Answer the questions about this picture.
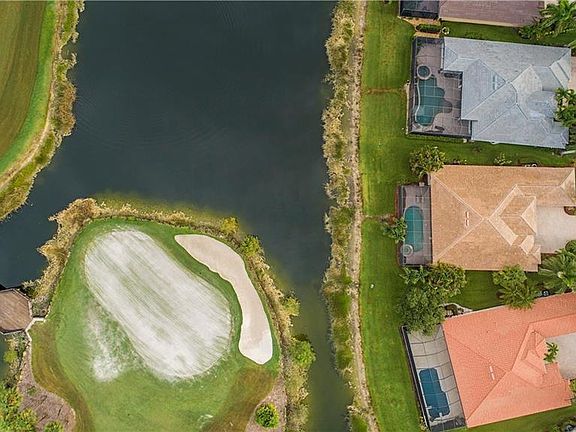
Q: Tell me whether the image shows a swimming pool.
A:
Yes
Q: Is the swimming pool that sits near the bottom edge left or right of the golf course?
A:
to the right of it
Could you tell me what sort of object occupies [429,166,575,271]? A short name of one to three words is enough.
house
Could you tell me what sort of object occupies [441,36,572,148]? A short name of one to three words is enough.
house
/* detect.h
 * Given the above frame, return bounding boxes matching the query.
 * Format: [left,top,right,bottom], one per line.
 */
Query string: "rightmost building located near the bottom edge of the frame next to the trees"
[442,292,576,428]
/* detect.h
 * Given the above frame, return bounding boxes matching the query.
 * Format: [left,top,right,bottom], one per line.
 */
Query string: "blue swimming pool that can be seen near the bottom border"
[420,368,452,423]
